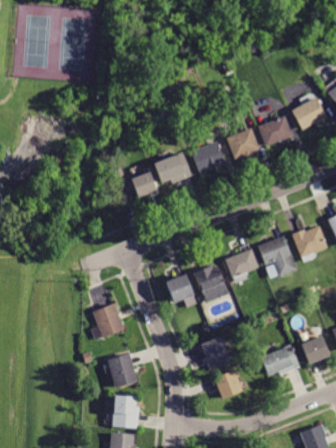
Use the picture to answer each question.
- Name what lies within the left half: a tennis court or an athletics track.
tennis court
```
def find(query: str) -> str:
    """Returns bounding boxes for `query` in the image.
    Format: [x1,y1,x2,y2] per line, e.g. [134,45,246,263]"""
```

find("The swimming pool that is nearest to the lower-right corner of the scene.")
[290,314,307,330]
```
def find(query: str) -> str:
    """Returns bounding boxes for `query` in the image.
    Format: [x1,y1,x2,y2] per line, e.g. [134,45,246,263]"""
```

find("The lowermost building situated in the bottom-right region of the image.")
[300,424,330,448]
